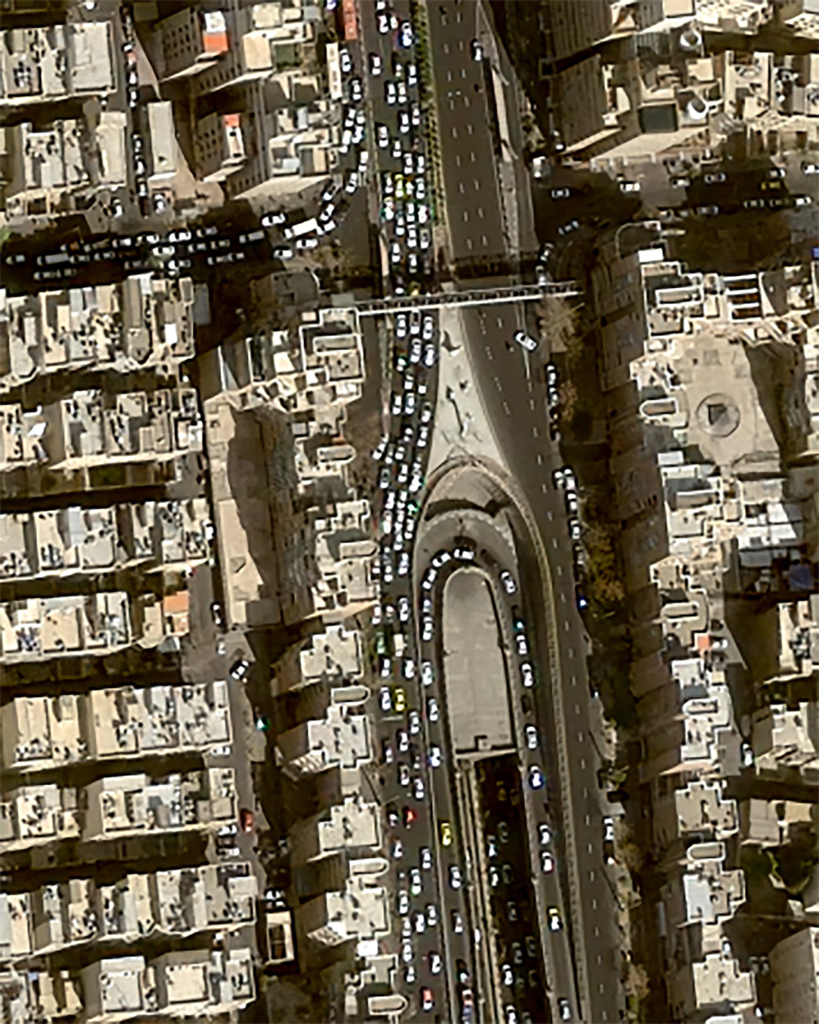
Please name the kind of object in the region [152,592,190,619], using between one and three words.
house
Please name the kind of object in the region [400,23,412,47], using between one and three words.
vehicle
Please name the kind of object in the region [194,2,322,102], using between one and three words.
building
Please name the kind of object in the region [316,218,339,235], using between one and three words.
vehicle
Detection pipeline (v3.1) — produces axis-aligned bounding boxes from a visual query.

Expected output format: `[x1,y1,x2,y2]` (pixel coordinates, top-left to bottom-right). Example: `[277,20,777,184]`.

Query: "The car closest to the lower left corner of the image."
[212,932,225,946]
